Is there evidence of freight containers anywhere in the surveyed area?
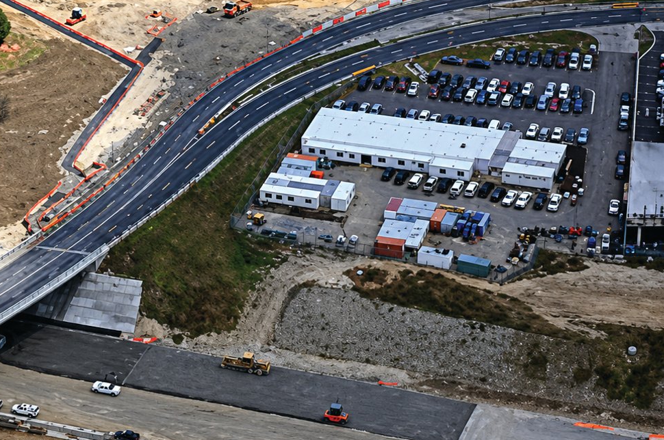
Yes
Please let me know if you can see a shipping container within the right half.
Yes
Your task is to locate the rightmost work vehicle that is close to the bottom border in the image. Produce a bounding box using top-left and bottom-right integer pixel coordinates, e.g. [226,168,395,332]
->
[323,403,349,426]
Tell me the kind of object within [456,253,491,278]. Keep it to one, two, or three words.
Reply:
shipping container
